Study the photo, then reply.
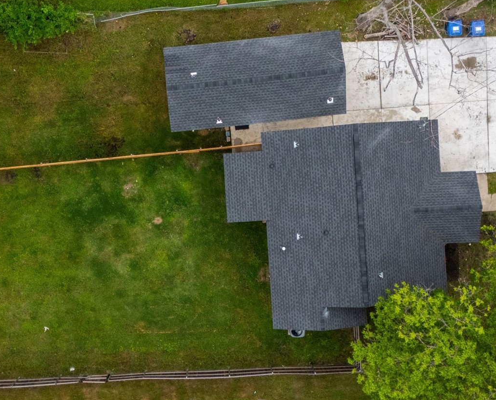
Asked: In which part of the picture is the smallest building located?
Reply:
top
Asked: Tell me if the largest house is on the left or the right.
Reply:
right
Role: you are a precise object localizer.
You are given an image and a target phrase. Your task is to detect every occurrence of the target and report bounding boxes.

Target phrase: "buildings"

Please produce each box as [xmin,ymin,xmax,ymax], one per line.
[223,116,485,332]
[164,31,347,133]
